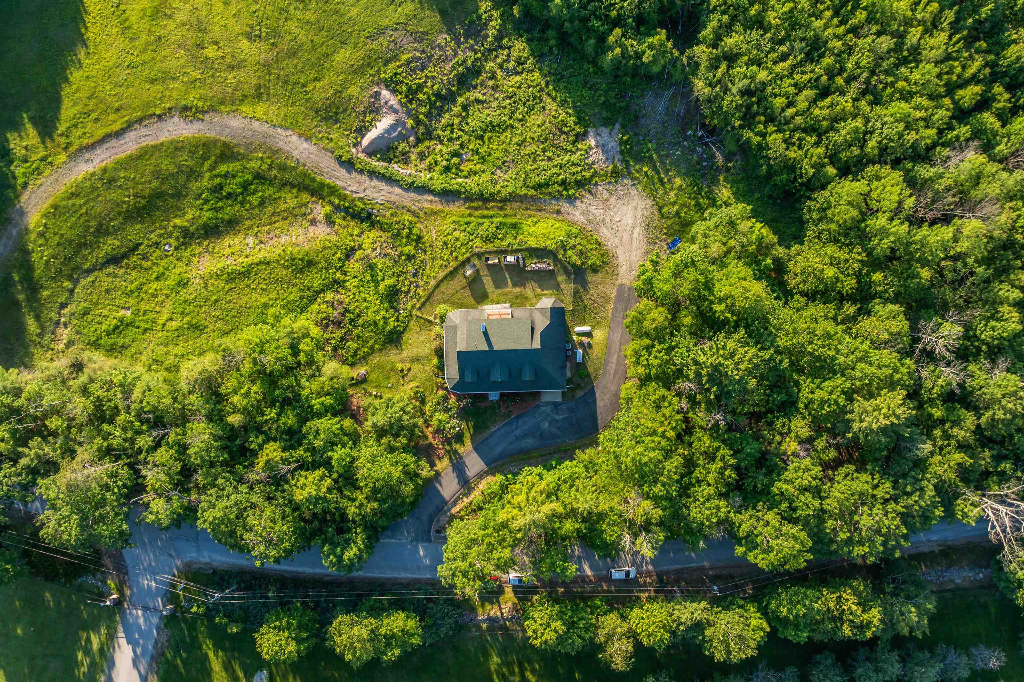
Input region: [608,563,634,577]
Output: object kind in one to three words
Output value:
car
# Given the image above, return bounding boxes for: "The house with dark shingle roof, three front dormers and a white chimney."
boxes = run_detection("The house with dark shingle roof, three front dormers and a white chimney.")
[443,296,572,398]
